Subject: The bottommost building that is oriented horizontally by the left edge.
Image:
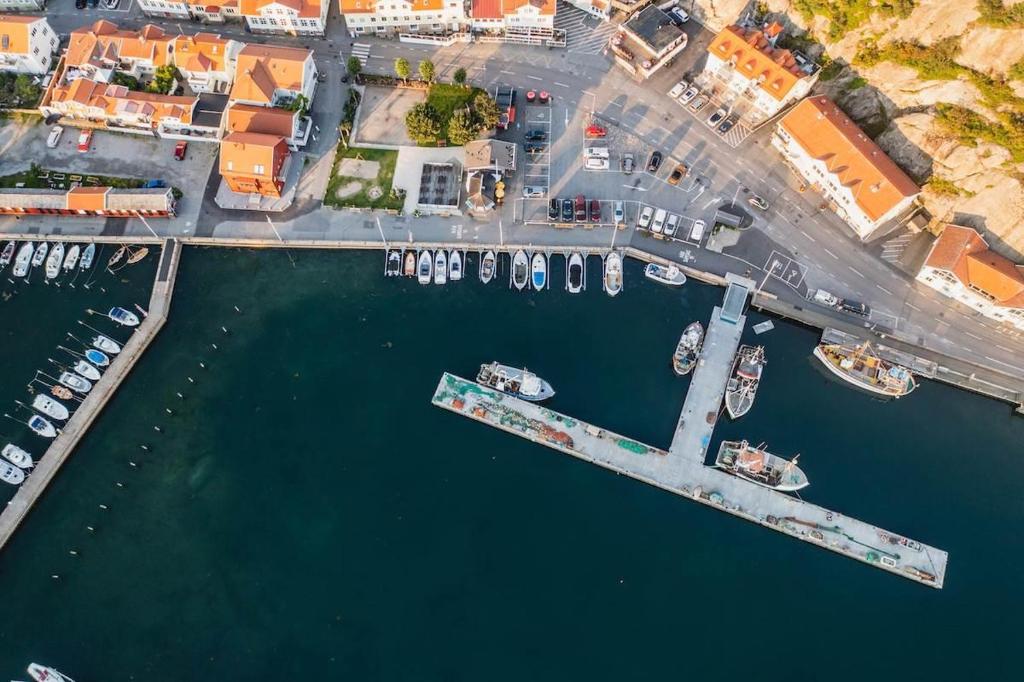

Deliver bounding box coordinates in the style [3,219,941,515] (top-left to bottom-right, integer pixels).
[0,186,177,217]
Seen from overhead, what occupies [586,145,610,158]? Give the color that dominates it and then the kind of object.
white vehicle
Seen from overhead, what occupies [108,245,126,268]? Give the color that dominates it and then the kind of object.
gray boat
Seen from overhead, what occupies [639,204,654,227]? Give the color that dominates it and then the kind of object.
white car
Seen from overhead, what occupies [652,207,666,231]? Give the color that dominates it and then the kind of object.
white car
